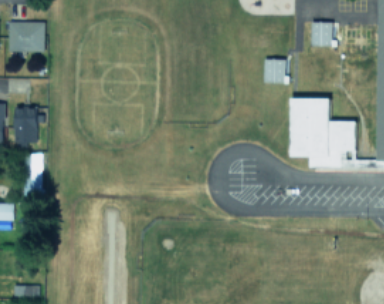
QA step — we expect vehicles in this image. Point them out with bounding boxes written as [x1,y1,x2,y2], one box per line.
[276,188,285,198]
[22,6,27,17]
[12,4,18,16]
[286,190,300,195]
